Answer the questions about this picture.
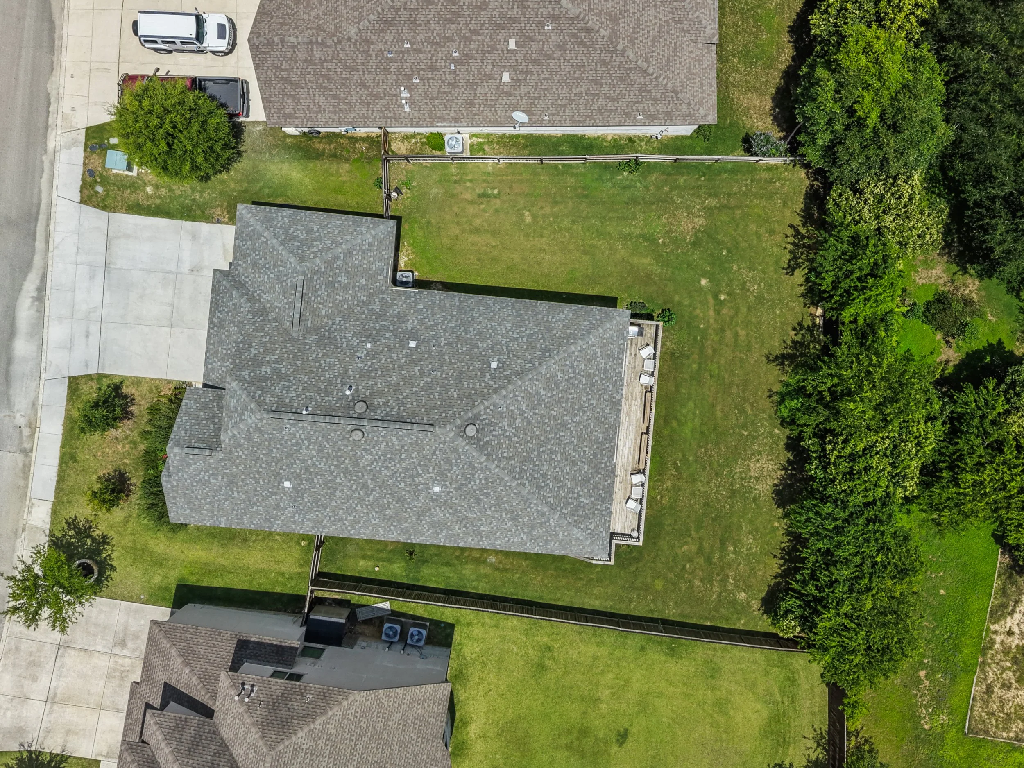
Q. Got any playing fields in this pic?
No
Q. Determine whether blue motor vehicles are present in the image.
No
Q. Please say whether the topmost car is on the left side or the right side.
left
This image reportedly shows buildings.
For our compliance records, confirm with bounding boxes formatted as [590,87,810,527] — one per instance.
[118,604,453,768]
[161,204,630,558]
[248,0,719,138]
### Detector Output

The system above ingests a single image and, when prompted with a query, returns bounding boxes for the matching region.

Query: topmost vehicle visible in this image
[133,6,240,63]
